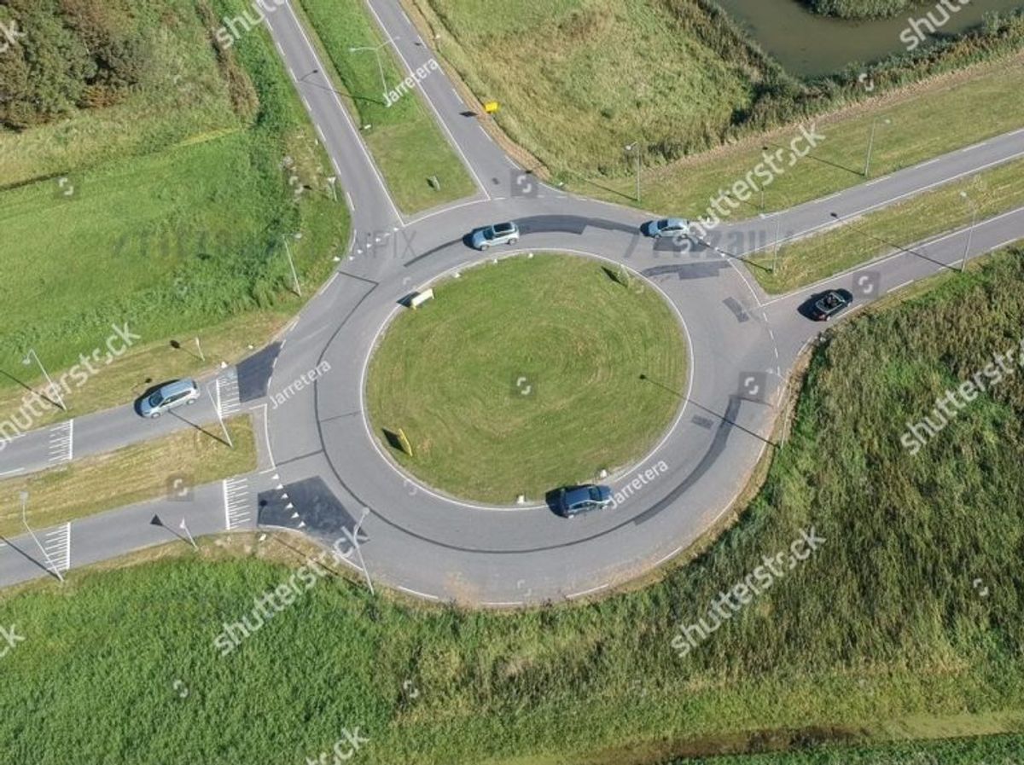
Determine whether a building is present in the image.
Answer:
No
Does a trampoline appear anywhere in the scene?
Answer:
No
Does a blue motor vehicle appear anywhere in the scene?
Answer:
Yes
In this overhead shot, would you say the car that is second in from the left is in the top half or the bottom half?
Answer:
top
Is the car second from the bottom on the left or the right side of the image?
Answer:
left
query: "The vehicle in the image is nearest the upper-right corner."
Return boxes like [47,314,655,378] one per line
[811,288,854,321]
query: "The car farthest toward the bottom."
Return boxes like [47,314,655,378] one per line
[555,483,614,519]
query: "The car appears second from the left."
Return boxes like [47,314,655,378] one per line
[474,222,521,250]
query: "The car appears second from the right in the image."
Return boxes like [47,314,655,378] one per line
[649,217,693,238]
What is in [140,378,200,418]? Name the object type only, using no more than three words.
car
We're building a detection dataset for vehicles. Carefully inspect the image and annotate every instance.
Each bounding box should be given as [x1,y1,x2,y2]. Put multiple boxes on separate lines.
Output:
[555,483,614,519]
[474,222,521,250]
[649,217,693,238]
[811,288,854,321]
[140,378,200,418]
